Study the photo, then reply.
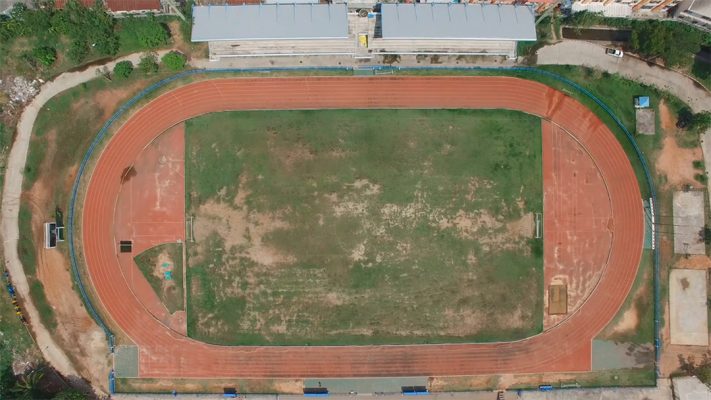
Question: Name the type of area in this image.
sports ground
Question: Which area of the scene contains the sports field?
center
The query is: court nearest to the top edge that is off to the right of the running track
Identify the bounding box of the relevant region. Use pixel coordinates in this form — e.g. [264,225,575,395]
[674,192,703,253]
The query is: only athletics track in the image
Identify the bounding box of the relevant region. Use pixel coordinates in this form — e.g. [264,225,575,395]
[81,76,644,380]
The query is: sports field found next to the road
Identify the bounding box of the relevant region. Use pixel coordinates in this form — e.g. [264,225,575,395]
[186,108,544,345]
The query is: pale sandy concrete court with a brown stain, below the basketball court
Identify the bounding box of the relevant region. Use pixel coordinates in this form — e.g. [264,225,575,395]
[669,269,707,345]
